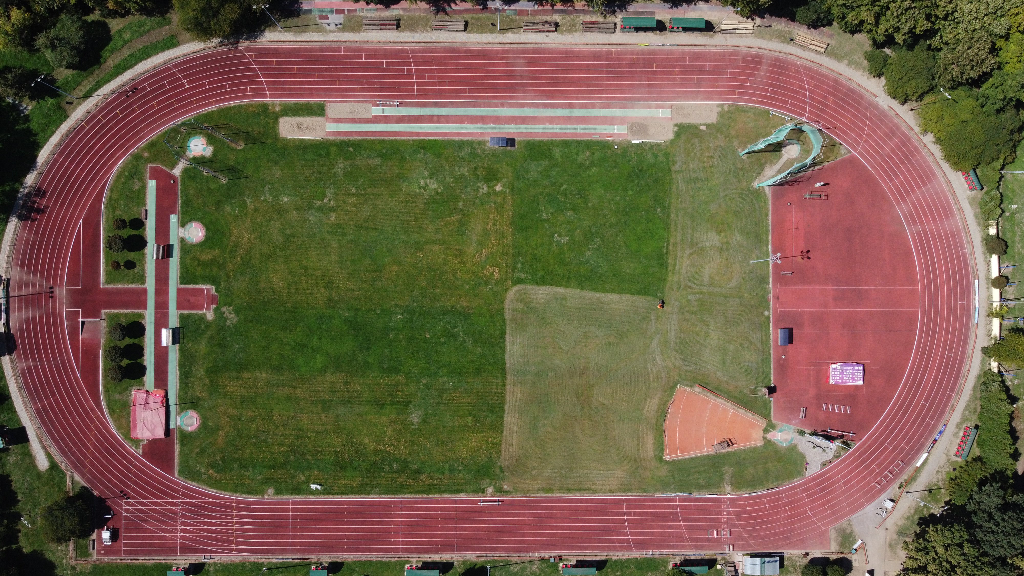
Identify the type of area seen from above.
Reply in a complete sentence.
What you see here is a sports ground.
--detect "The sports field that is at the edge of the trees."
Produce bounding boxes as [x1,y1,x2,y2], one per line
[101,101,856,499]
